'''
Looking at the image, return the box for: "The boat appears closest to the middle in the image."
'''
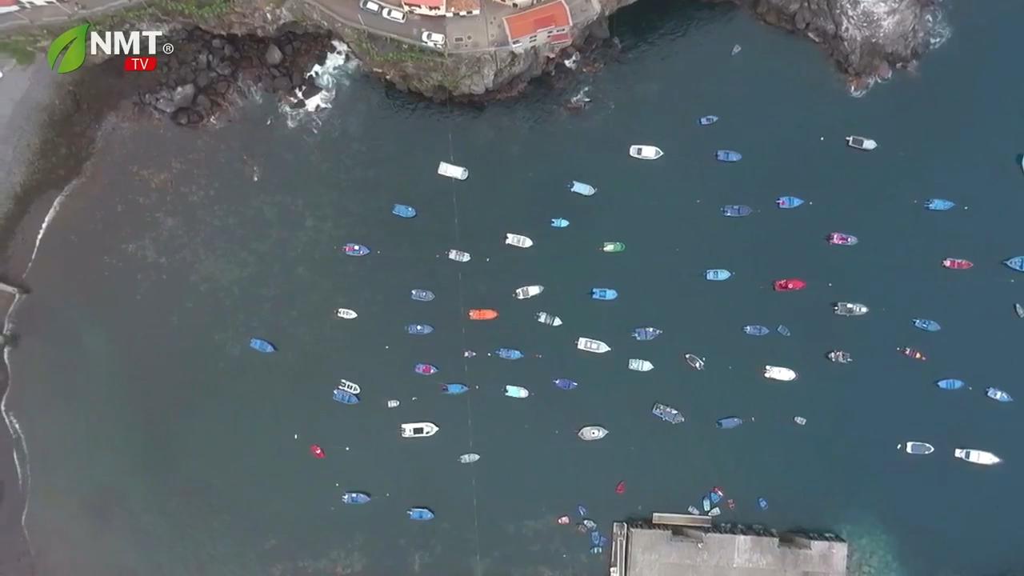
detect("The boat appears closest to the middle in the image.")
[510,287,543,300]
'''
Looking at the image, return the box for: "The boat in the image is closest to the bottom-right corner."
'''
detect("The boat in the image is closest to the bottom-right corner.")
[953,450,1006,466]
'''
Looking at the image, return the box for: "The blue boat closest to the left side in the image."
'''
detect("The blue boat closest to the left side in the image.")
[247,337,274,351]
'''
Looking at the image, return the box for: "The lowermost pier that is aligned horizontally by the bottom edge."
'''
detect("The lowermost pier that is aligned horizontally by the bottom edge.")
[626,521,847,576]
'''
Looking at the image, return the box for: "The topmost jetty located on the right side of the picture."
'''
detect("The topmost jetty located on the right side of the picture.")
[652,511,711,527]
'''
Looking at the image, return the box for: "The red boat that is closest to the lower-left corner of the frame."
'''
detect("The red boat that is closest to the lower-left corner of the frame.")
[310,443,324,457]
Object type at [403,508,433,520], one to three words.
boat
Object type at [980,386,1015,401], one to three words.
boat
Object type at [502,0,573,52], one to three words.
house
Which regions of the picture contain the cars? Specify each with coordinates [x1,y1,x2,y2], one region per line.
[380,6,406,23]
[421,29,445,43]
[357,0,382,14]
